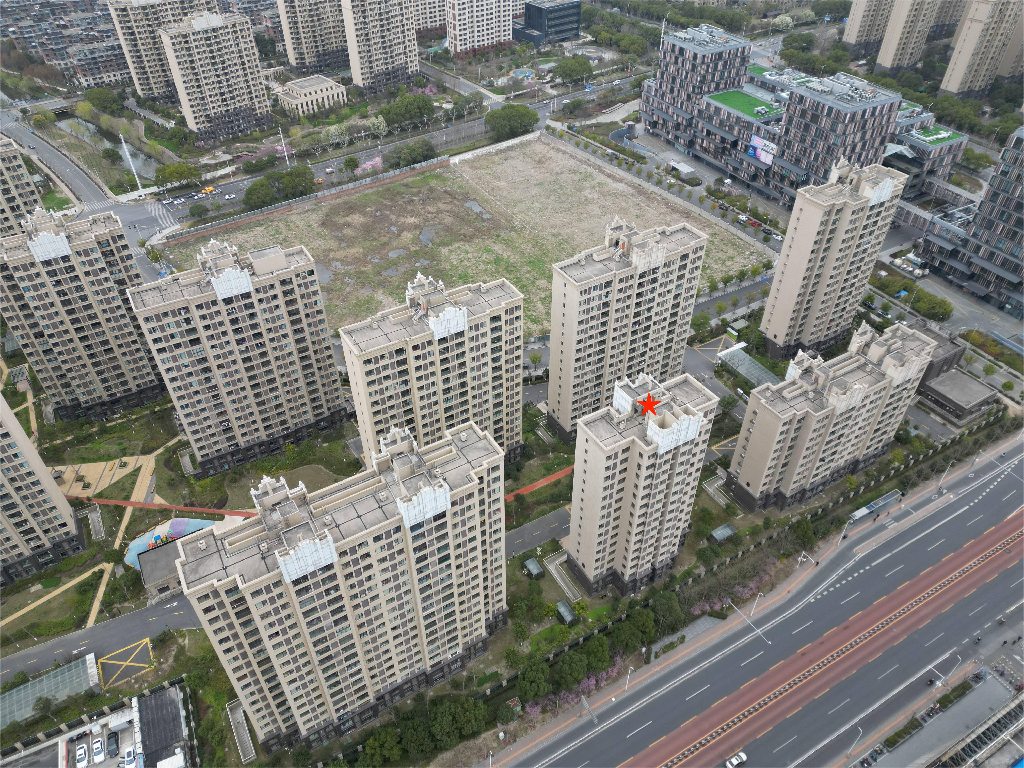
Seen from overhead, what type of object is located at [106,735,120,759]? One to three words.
car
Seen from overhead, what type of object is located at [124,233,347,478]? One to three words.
building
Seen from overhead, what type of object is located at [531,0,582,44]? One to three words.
building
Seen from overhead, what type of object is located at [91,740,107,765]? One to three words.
car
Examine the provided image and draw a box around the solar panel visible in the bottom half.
[868,487,902,509]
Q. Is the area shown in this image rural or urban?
urban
